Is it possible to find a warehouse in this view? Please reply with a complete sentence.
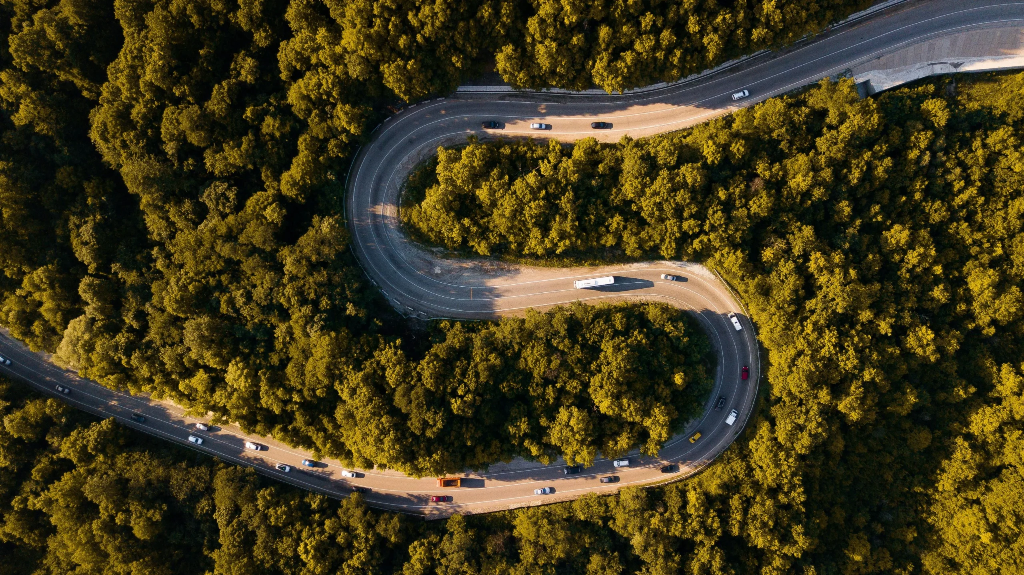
No, the frame has no warehouse in it.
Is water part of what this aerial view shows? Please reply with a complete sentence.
No, there is no water in the image.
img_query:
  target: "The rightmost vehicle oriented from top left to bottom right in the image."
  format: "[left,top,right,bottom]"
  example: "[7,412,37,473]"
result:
[729,313,744,332]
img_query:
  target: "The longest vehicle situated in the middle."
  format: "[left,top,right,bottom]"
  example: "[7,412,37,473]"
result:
[573,275,616,289]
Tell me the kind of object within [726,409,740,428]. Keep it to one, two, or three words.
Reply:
vehicle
